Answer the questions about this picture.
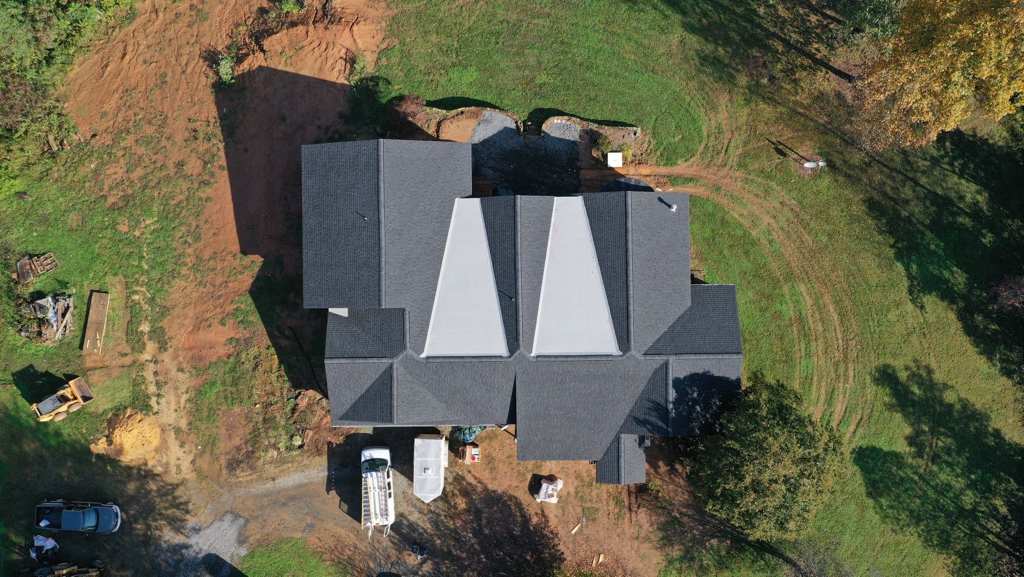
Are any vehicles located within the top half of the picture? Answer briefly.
No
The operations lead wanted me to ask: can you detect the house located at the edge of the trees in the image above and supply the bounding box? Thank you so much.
[302,137,744,486]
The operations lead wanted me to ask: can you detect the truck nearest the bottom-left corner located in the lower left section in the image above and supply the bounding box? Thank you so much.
[38,502,125,540]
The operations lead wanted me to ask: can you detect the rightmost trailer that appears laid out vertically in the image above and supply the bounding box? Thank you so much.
[415,429,450,508]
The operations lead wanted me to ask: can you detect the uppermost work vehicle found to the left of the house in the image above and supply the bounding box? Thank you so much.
[23,376,92,423]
